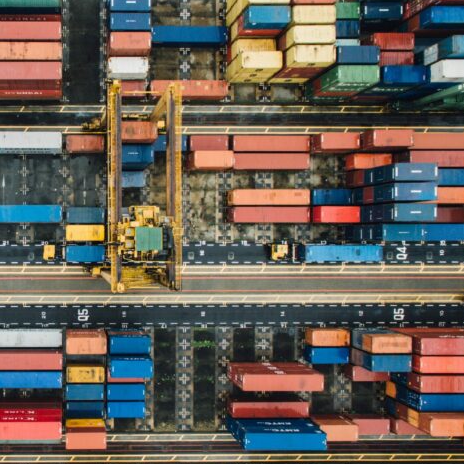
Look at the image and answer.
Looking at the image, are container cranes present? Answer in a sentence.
Yes, there is a container crane in the image.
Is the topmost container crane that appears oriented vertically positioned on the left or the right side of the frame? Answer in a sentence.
The topmost container crane that appears oriented vertically appears in the left half of the scene.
